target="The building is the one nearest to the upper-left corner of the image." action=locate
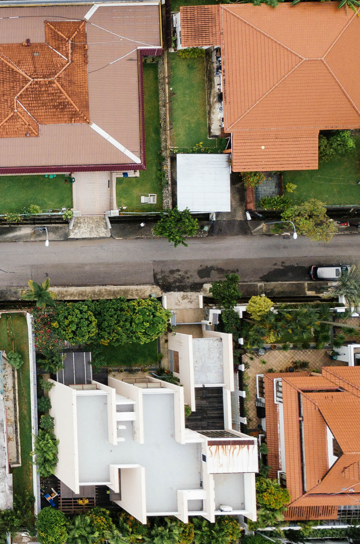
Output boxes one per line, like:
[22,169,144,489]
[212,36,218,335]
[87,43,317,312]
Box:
[0,1,163,175]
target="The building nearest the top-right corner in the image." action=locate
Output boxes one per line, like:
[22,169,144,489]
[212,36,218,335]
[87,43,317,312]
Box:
[169,1,360,172]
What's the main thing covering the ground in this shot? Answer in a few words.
buildings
